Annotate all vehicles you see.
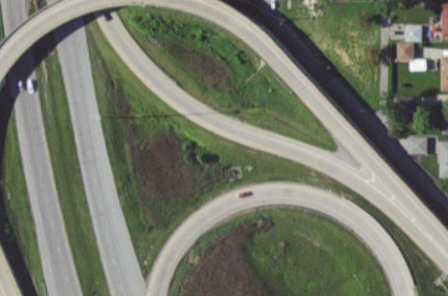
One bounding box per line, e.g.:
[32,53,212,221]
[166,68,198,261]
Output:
[17,80,24,92]
[392,30,404,36]
[441,50,448,56]
[26,78,34,94]
[236,191,252,199]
